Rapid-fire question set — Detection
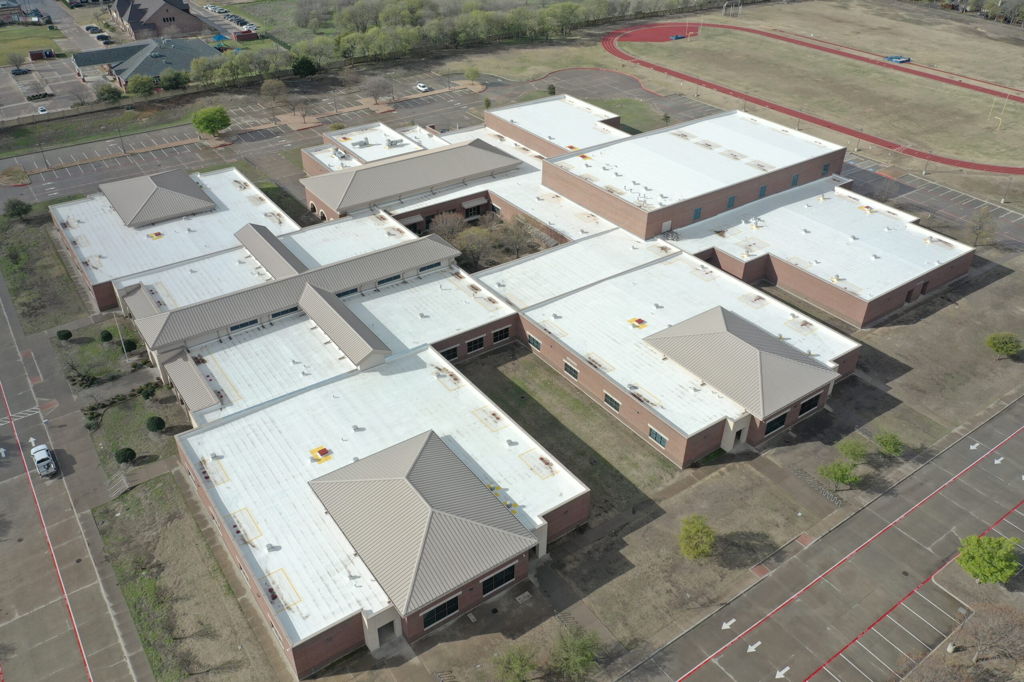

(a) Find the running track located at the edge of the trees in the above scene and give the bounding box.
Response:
[598,22,1024,172]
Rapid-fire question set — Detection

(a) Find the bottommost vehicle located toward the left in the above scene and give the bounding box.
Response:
[28,442,55,475]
